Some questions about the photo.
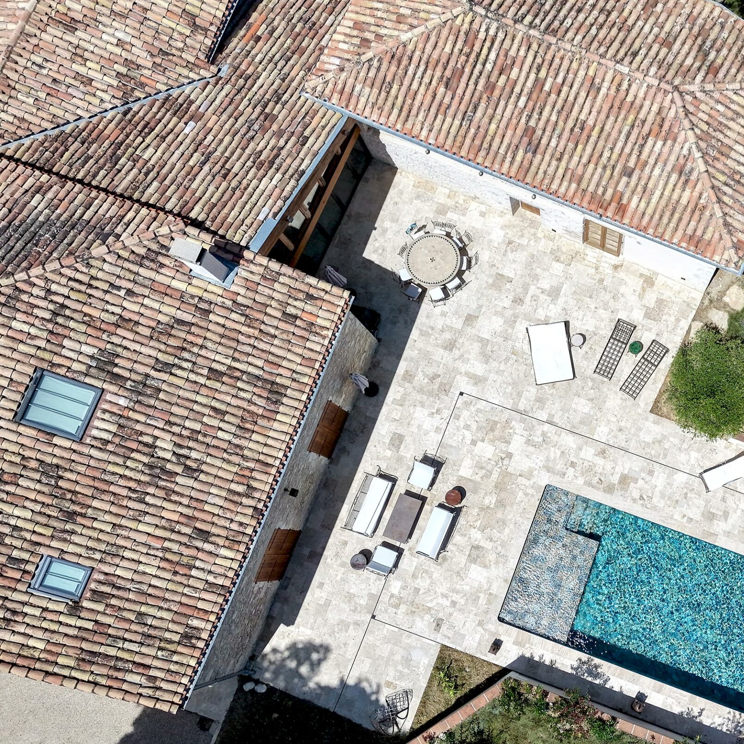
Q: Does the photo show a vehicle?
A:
No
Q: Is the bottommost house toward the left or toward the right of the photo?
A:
left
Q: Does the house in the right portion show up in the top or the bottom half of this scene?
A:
top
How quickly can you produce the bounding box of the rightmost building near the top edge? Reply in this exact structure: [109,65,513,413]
[300,0,744,297]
